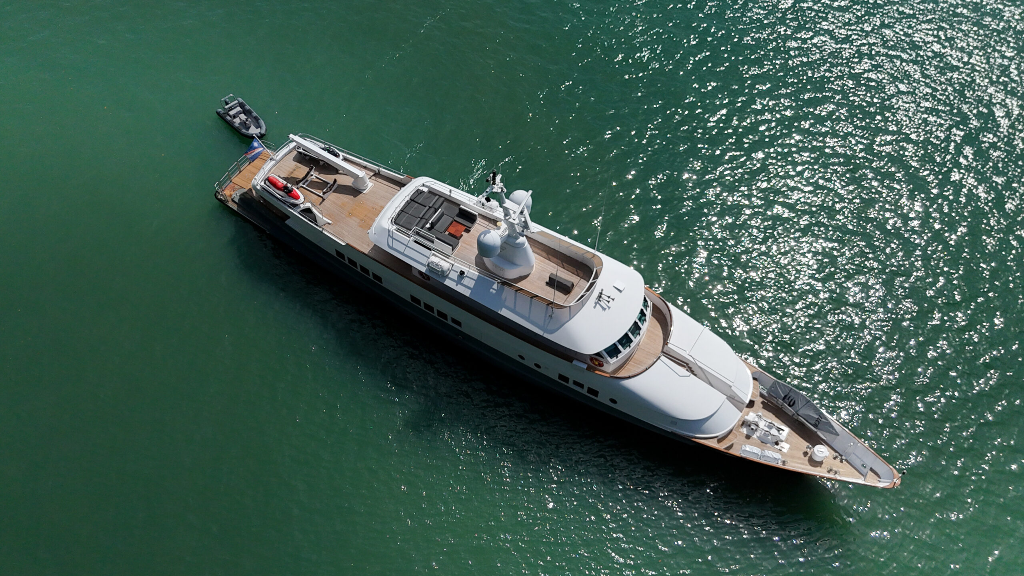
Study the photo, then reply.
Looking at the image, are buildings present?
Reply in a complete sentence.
No, no building can be seen from above.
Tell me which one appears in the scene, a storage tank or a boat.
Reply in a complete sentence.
There is a boat in the scene.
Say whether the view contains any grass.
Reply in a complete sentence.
No, there is no grass in the image.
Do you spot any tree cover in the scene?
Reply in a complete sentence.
No, no tree cover is visible.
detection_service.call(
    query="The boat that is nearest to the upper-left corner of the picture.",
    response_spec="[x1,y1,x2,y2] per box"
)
[219,92,266,139]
